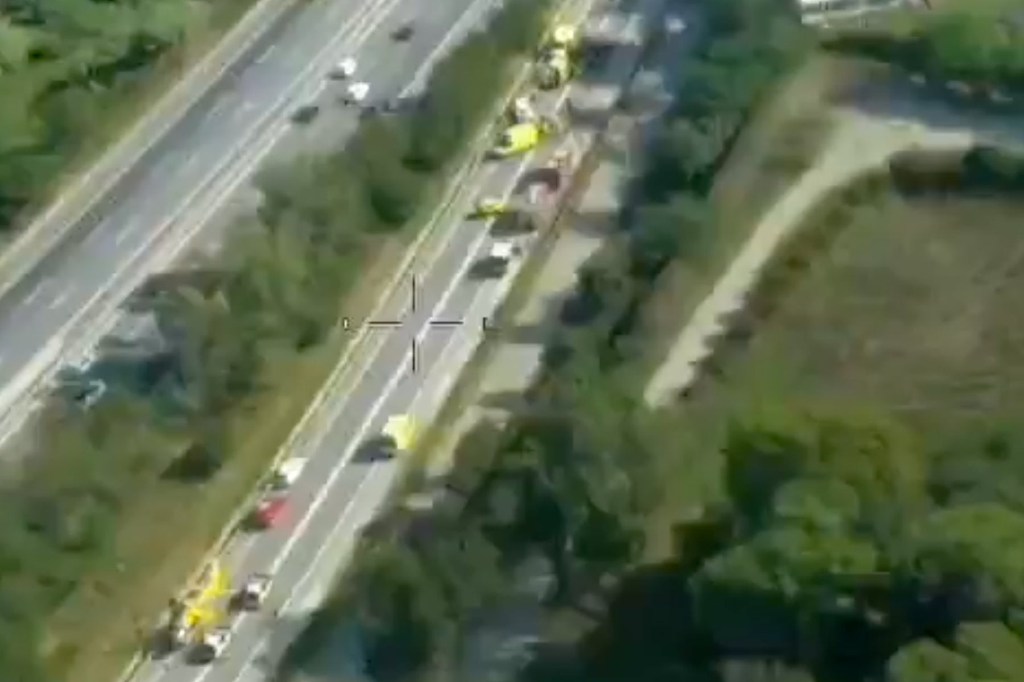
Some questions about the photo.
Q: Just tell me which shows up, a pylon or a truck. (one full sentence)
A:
Visible in the photo is a truck.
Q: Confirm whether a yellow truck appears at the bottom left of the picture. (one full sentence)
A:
Yes, a yellow truck shows up at the bottom left of the picture.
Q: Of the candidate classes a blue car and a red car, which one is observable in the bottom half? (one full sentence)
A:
Visible in the bottom half is a red car.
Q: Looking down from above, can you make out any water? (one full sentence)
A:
No, the scene doesn't show any water.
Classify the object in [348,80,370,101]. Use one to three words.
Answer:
car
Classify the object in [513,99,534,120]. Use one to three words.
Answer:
vehicle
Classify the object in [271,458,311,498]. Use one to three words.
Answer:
van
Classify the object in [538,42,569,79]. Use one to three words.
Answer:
truck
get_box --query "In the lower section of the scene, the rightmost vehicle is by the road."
[386,410,426,456]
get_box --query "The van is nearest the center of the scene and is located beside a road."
[489,237,518,267]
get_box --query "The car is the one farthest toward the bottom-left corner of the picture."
[149,622,176,659]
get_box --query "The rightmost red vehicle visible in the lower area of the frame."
[254,498,289,534]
